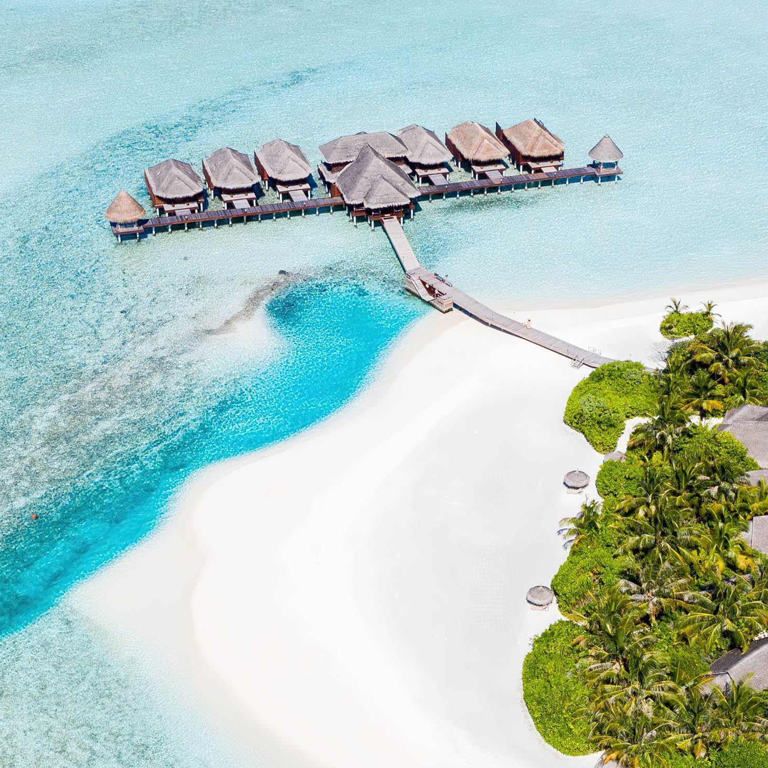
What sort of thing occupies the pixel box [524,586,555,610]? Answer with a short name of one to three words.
umbrella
